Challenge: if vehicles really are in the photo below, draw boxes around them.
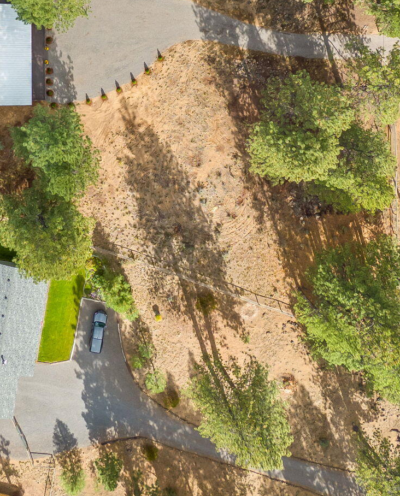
[90,309,108,353]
